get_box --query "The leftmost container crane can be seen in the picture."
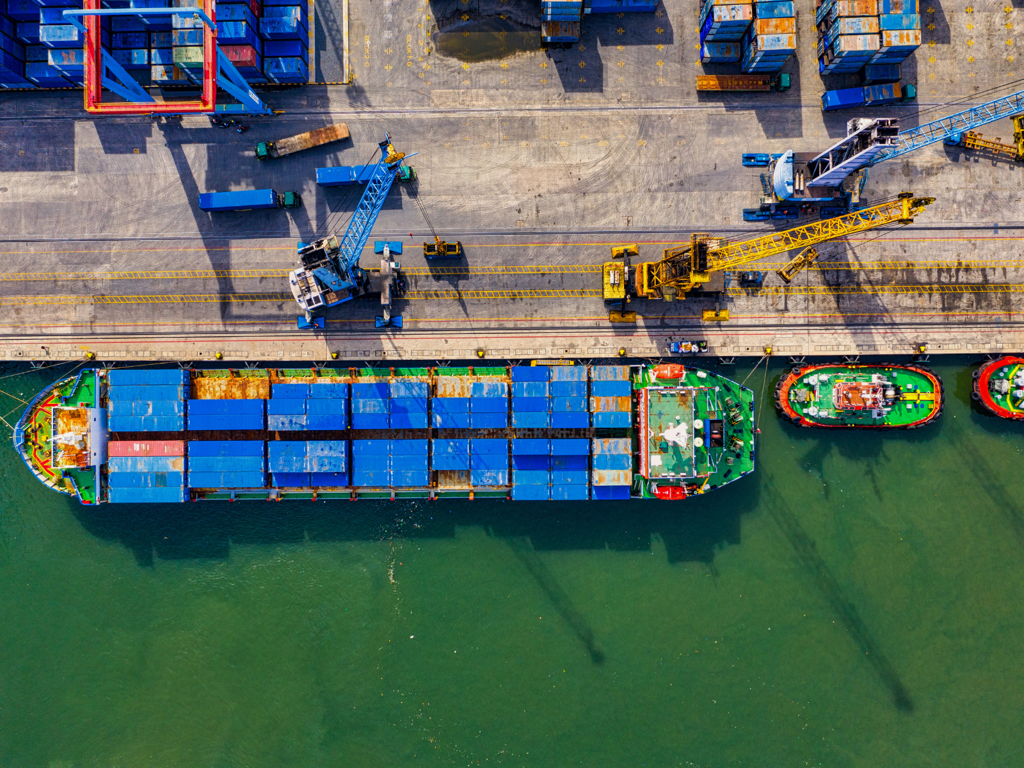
[61,0,289,119]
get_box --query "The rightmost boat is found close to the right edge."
[968,354,1024,423]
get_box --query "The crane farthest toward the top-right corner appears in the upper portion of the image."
[741,73,1024,221]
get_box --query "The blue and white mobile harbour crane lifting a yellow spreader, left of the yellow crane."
[289,131,443,328]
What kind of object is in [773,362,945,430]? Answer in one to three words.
boat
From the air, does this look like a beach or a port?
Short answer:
port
